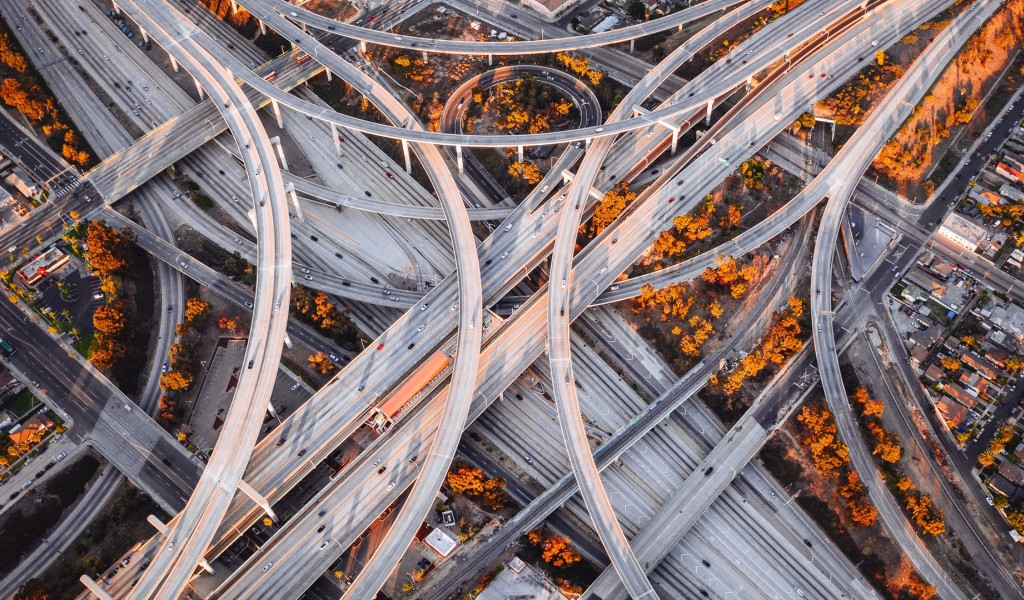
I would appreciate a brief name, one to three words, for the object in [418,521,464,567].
house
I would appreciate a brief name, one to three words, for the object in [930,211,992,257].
building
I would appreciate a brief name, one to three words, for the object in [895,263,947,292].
house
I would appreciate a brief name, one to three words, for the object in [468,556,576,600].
building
